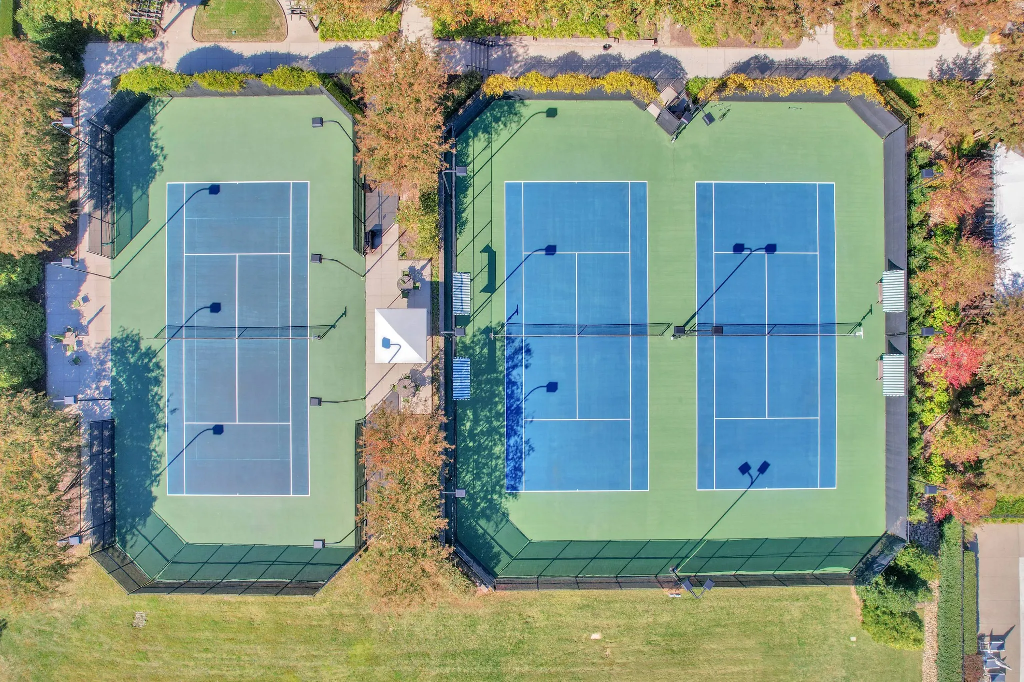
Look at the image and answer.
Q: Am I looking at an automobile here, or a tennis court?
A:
tennis court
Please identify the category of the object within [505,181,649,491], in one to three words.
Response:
tennis court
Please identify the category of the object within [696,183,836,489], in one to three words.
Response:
tennis court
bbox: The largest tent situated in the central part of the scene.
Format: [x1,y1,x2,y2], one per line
[375,308,431,363]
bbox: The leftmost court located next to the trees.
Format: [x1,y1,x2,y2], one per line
[110,95,366,581]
